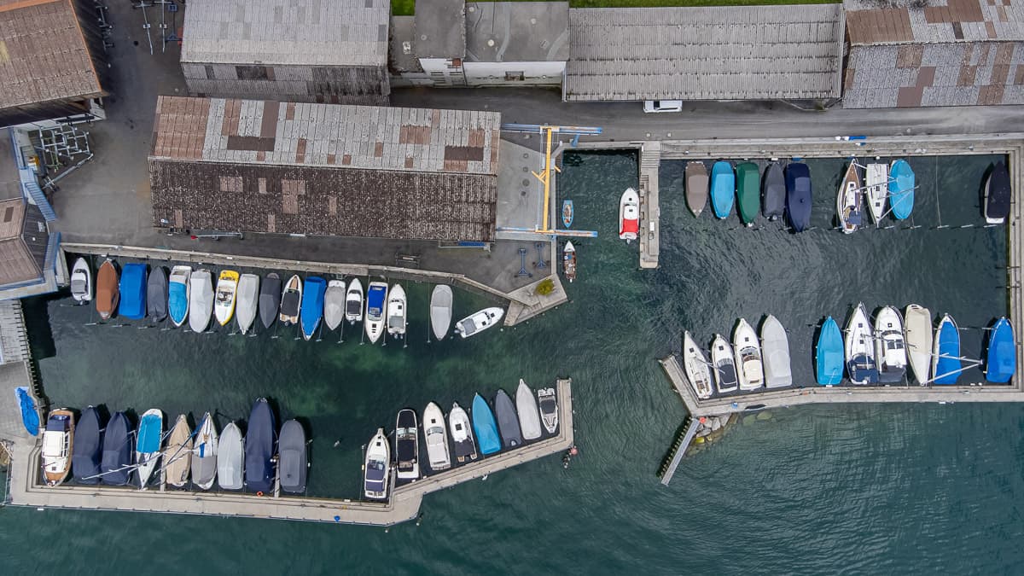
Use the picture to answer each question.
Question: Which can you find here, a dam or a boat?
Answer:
boat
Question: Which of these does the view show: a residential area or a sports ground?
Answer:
residential area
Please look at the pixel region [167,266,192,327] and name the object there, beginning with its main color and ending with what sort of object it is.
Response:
blue boat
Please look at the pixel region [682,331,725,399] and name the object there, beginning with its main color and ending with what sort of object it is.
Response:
white boat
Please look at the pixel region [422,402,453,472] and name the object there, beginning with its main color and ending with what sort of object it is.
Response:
white boat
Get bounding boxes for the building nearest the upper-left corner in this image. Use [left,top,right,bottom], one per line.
[0,0,118,130]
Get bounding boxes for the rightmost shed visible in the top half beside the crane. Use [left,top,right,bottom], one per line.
[564,4,846,103]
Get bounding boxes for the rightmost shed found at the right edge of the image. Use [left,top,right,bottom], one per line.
[831,0,1024,109]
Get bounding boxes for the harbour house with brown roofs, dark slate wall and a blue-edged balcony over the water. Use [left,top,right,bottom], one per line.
[0,197,61,301]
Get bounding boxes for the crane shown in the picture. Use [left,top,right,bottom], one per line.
[497,125,603,242]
